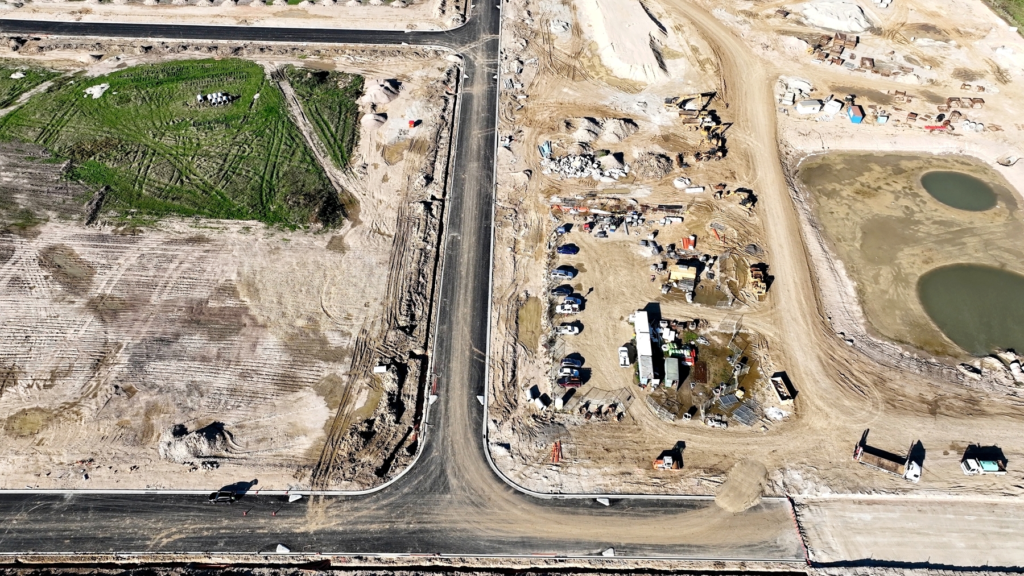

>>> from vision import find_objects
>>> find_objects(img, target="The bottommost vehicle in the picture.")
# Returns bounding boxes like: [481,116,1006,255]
[206,490,241,505]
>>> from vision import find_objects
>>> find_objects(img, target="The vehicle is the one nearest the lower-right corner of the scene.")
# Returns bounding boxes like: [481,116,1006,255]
[962,457,1014,477]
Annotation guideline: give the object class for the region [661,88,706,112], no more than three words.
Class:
work vehicle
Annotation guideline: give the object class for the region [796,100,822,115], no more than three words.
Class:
shed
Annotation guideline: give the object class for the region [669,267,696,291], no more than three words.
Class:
shed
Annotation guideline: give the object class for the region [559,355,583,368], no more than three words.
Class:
vehicle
